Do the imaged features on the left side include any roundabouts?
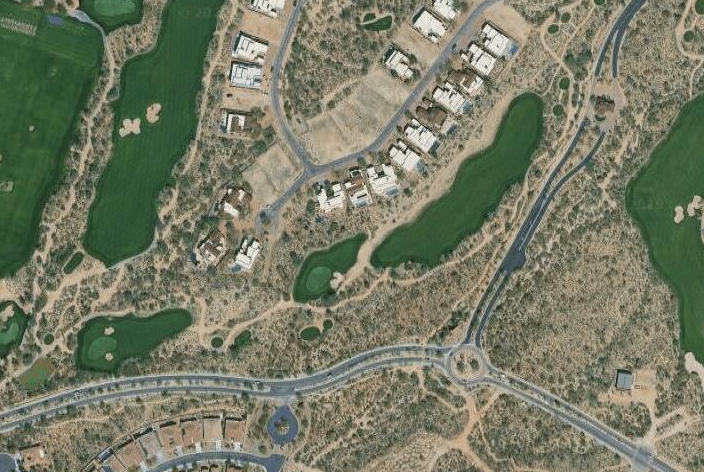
No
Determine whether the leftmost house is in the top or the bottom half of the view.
bottom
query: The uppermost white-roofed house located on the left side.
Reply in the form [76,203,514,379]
[253,0,284,18]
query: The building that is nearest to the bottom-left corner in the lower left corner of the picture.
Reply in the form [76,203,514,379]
[22,445,46,469]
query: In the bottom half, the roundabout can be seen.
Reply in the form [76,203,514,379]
[442,342,489,386]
